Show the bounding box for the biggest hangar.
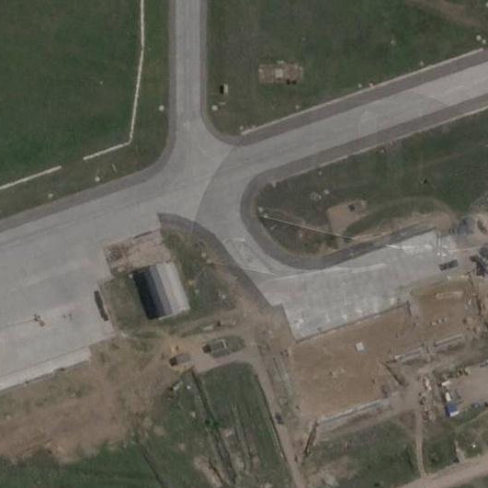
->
[143,262,190,320]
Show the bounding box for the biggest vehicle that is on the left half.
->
[93,291,109,321]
